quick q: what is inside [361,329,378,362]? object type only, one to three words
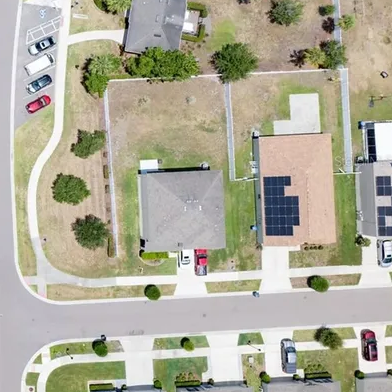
car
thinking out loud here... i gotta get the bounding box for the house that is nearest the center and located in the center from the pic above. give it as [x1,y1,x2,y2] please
[143,170,227,251]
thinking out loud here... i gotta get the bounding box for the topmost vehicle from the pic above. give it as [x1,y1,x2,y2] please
[27,36,57,56]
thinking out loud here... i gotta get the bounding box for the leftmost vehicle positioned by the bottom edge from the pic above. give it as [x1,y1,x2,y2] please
[281,338,297,373]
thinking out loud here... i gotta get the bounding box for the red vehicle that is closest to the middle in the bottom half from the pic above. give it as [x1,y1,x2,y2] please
[193,249,209,275]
